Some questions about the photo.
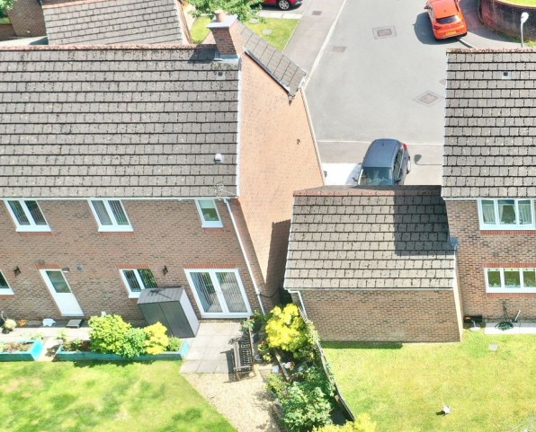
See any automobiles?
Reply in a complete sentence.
Yes, an automobile is visible in the scene.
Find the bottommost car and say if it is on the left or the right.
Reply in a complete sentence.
The bottommost car is on the right side of the image.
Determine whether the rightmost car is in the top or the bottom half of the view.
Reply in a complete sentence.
The top half of the photo is where the rightmost car is.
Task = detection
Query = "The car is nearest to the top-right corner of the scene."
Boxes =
[428,0,470,34]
